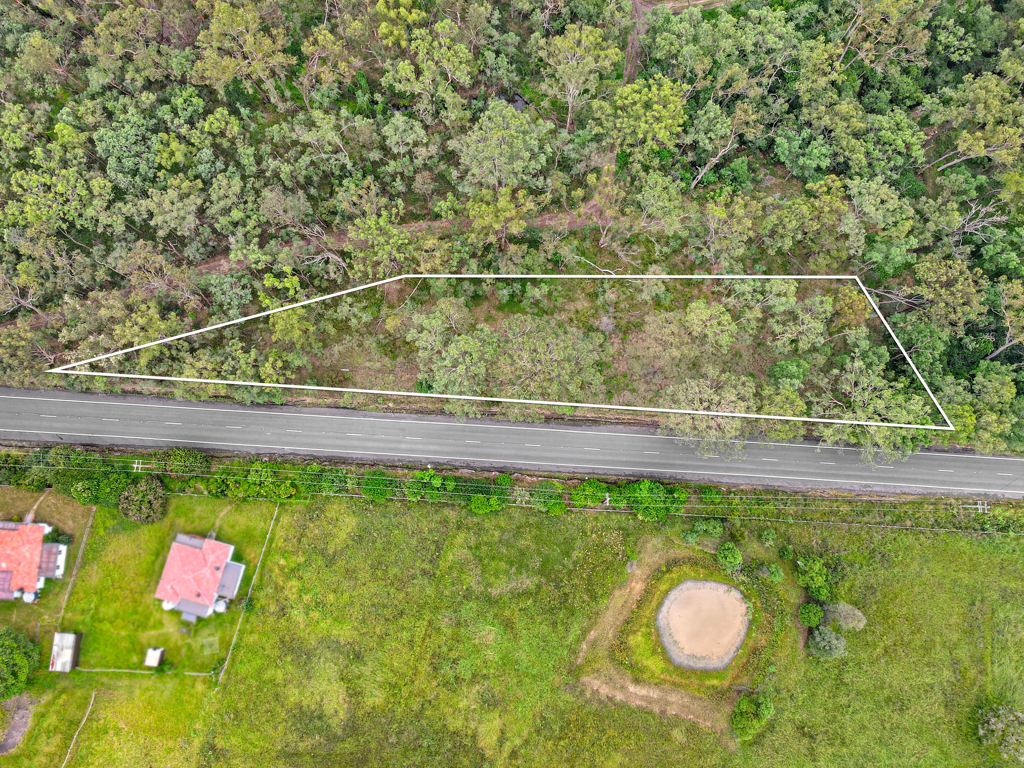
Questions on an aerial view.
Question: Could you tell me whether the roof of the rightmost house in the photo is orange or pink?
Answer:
pink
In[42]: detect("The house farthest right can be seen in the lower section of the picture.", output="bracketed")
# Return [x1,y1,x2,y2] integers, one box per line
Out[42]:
[157,529,246,626]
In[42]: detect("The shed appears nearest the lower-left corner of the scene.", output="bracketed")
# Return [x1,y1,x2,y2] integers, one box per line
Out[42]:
[48,627,83,675]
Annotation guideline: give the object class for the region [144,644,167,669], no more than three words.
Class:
shed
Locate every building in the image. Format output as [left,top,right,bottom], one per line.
[0,509,70,602]
[144,644,167,669]
[48,627,83,675]
[157,529,246,626]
